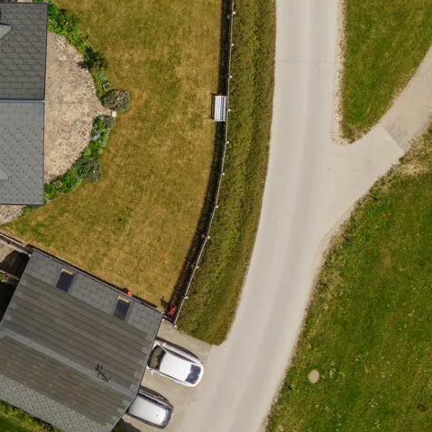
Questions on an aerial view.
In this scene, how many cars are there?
two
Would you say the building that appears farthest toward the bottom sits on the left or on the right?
left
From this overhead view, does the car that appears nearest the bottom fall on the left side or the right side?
left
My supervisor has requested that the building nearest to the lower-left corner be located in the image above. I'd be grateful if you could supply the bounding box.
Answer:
[0,247,165,432]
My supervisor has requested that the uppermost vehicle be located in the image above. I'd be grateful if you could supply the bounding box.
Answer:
[143,337,206,390]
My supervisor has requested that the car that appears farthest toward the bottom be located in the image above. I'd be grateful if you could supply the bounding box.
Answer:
[120,383,173,428]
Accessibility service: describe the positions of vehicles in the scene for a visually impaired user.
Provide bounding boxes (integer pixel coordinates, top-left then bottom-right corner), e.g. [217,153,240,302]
[143,337,206,390]
[120,383,173,428]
